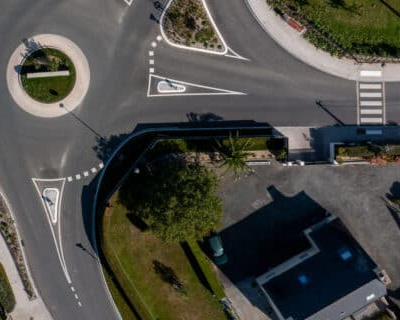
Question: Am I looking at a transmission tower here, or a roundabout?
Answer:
roundabout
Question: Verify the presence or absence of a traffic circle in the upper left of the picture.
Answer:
Yes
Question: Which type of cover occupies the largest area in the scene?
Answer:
paved ground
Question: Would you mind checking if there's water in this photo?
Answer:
No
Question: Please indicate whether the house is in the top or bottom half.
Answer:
bottom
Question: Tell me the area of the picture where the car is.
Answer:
bottom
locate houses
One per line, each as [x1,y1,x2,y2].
[255,213,386,320]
